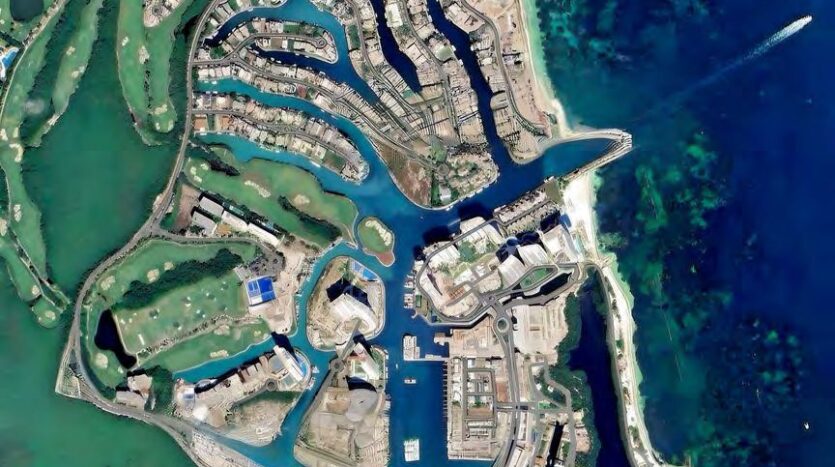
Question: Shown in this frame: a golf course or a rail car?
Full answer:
This aerial view contains a golf course.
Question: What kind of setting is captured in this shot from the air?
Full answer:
The picture captures a port.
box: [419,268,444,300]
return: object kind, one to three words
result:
building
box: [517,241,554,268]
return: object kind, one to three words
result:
building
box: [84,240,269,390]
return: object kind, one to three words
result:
golf course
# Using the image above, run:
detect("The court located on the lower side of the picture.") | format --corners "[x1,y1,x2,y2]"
[245,274,276,307]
